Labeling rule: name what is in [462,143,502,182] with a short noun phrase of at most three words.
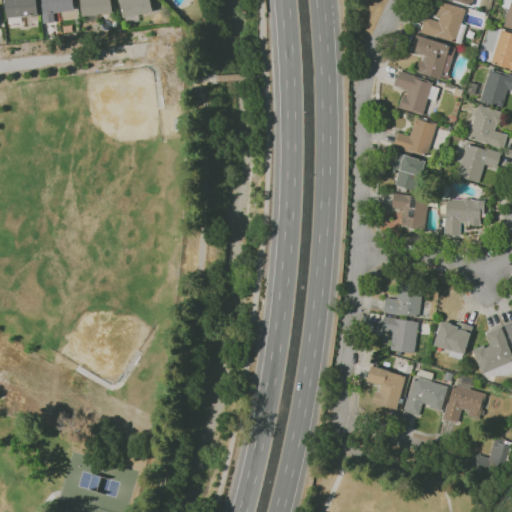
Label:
house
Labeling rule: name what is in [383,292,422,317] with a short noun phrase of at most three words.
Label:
house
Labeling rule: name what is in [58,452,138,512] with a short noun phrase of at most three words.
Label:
sports court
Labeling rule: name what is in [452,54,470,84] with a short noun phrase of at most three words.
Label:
swimming pool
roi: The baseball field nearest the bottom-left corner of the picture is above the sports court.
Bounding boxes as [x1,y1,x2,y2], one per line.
[0,222,182,390]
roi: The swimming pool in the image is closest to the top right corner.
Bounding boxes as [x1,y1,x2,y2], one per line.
[466,10,488,30]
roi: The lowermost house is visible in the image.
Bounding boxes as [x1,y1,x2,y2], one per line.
[478,440,512,469]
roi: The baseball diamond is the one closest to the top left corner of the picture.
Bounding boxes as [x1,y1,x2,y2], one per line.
[0,66,184,222]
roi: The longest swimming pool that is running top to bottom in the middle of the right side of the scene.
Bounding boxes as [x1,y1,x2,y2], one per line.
[426,203,439,233]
